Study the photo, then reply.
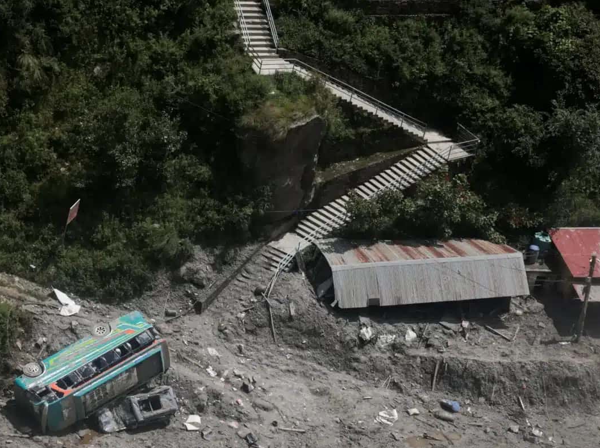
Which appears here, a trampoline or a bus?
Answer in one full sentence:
I can see a bus in this picture.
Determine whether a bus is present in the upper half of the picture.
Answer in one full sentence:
No, I see no bus in the upper half of the picture.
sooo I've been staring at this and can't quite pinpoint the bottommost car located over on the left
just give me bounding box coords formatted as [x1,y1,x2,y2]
[92,381,181,439]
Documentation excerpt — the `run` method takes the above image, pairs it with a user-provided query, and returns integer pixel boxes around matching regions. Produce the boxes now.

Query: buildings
[314,240,530,322]
[551,226,600,324]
